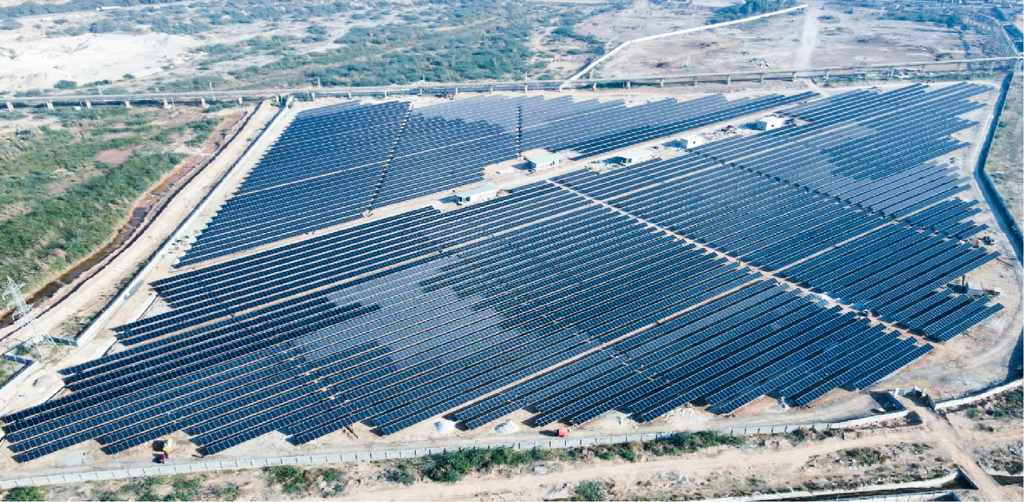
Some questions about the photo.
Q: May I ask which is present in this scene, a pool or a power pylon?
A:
power pylon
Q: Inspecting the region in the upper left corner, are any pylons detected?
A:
No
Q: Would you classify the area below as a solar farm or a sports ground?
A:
solar farm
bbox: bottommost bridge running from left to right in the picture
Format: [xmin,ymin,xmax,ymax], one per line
[0,56,1024,112]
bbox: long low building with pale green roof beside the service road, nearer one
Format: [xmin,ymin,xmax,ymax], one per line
[454,184,497,206]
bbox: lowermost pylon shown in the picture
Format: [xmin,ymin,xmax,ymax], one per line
[2,281,51,359]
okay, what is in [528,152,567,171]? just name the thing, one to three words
building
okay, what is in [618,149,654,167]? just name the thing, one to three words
building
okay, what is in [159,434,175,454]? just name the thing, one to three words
work vehicle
